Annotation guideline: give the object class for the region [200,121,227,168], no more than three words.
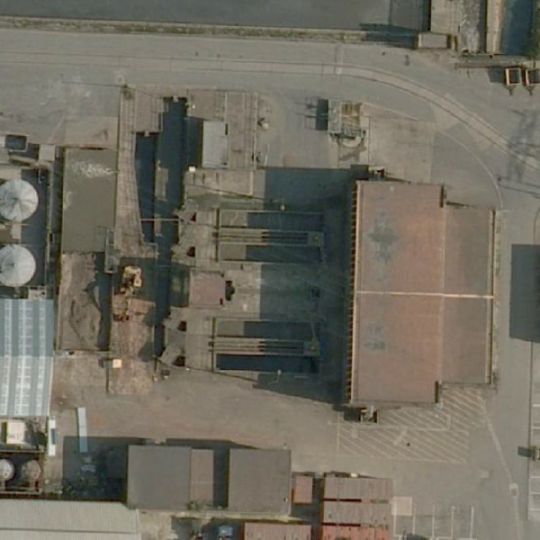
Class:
house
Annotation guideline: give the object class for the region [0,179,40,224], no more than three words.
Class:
storage tank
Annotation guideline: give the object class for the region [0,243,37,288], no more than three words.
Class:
storage tank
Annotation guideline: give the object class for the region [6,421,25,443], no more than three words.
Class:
shed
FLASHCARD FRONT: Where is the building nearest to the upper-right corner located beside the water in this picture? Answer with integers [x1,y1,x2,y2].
[416,34,448,49]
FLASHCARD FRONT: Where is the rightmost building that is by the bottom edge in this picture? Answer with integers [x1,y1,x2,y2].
[123,447,291,515]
